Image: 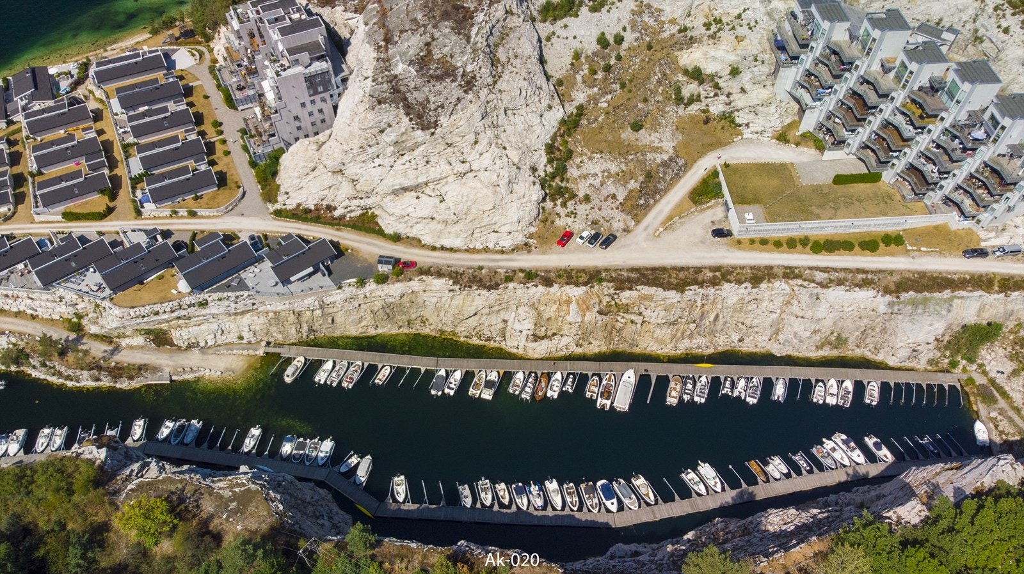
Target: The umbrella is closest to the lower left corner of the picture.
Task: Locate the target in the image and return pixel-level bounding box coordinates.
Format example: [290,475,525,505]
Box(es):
[174,282,193,298]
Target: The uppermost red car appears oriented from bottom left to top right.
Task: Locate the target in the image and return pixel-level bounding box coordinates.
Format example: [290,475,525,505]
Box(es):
[555,230,573,249]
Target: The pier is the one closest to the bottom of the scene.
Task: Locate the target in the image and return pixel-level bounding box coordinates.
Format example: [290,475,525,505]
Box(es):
[0,441,977,529]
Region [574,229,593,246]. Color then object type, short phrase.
white car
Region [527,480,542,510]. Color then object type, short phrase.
white boat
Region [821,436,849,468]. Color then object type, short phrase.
white boat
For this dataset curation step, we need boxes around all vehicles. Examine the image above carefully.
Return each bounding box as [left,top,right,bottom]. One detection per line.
[574,229,593,246]
[555,230,573,249]
[245,233,264,252]
[170,237,188,256]
[710,227,733,239]
[960,248,991,259]
[990,243,1023,259]
[396,259,417,269]
[598,230,620,251]
[585,229,605,249]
